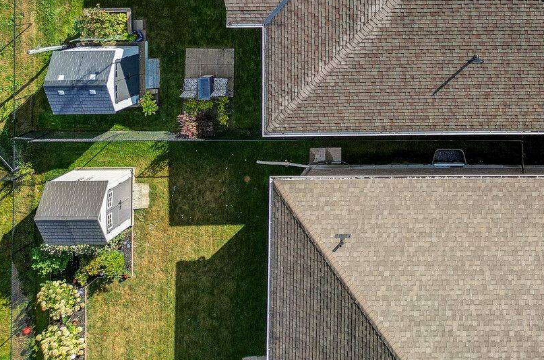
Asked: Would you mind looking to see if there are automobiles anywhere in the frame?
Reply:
No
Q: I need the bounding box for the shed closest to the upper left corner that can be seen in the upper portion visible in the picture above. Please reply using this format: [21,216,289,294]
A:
[42,47,137,112]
